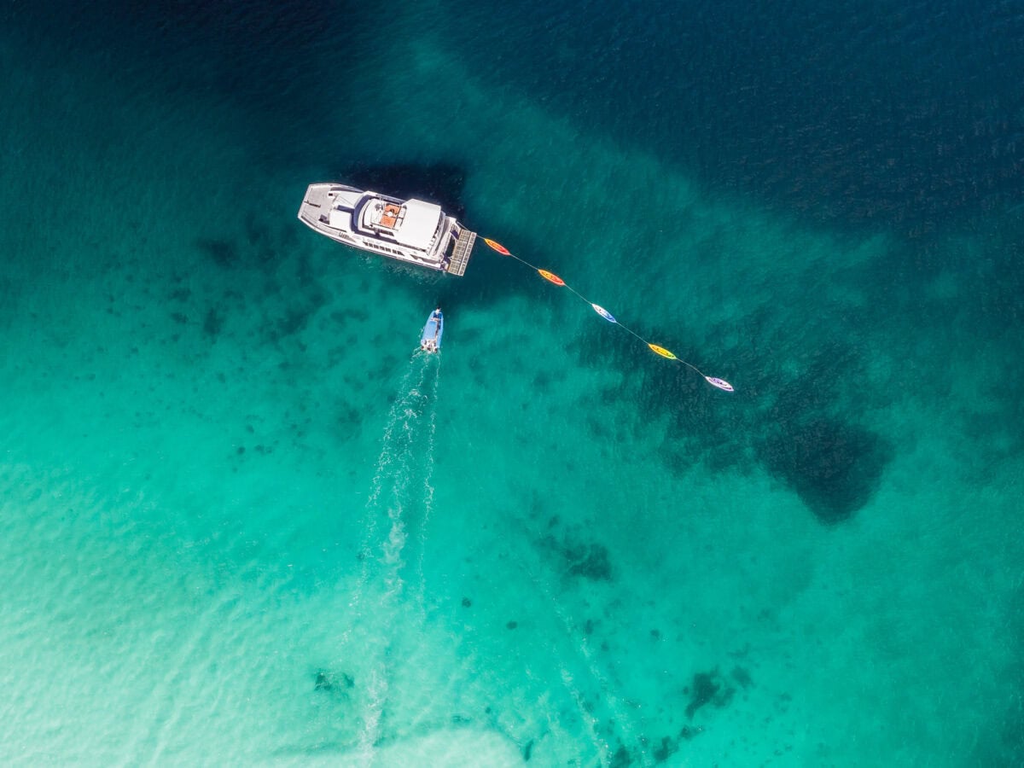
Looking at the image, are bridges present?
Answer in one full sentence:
No, no bridge can be seen from above.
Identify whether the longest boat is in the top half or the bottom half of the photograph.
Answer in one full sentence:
Seen from above, the longest boat lies in the top half of the view.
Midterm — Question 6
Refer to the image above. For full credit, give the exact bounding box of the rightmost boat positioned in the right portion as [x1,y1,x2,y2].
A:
[706,377,735,391]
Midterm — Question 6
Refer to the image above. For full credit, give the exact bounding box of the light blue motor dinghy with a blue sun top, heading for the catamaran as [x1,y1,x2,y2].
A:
[420,311,444,352]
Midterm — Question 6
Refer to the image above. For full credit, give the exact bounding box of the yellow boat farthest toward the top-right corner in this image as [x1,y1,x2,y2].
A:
[649,344,677,358]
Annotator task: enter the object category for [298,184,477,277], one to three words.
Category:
boat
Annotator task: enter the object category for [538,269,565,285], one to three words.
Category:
boat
